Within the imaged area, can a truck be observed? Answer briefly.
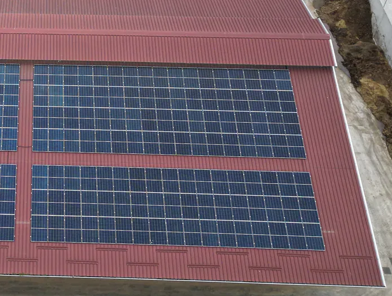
No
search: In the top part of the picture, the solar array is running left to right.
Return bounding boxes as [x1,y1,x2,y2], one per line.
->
[32,65,305,157]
